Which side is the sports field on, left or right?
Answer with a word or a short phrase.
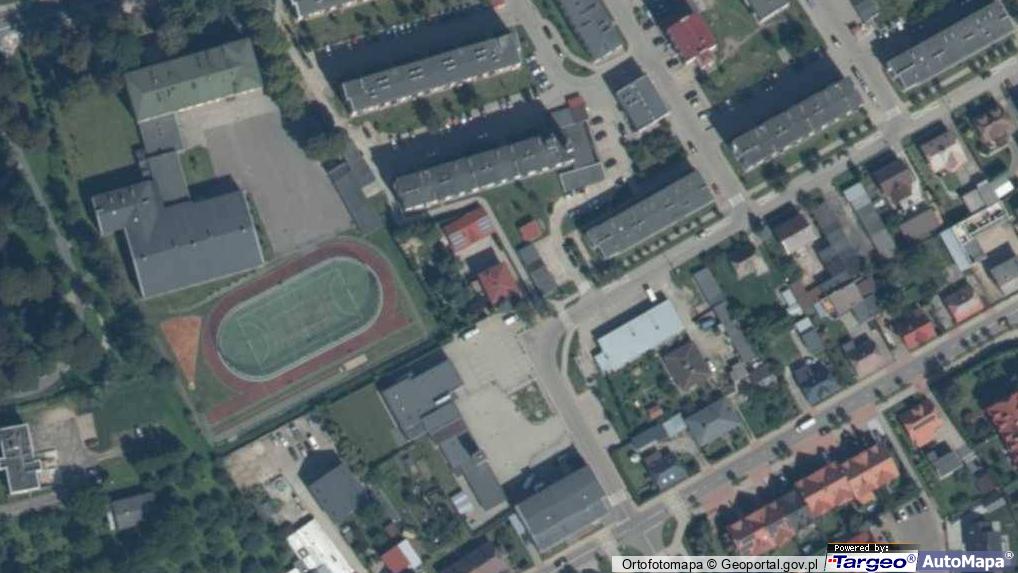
left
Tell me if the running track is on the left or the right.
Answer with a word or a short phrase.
left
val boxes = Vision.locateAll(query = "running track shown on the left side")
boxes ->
[200,240,424,424]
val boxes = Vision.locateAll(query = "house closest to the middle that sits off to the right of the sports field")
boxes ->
[478,262,522,304]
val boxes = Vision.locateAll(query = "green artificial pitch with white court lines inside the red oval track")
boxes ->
[218,258,382,378]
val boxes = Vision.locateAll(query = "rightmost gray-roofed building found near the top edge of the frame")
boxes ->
[885,0,1016,92]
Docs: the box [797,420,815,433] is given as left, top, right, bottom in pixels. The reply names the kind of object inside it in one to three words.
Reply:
vehicle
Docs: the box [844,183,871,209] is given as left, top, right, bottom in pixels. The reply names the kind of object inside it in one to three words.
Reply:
building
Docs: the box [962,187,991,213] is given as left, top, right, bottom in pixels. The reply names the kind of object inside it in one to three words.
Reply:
shed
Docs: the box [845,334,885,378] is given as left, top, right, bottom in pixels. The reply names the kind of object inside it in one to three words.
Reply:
house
